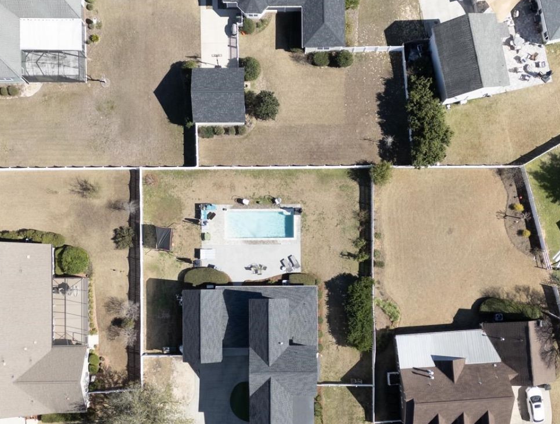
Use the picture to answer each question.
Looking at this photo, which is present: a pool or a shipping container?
pool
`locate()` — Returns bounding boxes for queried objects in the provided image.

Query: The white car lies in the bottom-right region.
[521,385,539,420]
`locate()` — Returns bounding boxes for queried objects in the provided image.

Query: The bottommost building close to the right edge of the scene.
[387,320,556,424]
